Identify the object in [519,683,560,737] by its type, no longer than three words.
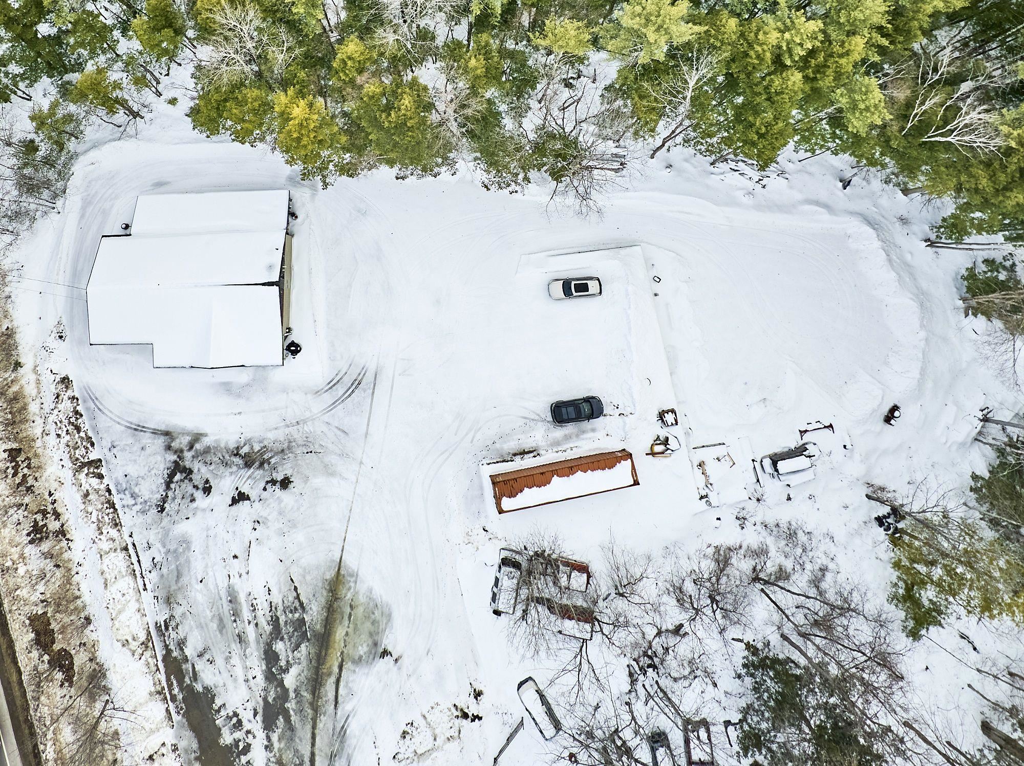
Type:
car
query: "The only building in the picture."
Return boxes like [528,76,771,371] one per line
[86,190,294,370]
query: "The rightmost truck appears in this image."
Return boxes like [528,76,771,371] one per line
[759,441,825,488]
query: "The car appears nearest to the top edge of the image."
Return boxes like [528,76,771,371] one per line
[546,275,604,301]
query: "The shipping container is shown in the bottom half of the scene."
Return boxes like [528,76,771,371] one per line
[492,450,638,514]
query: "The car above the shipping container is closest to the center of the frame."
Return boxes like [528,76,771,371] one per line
[548,396,605,424]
